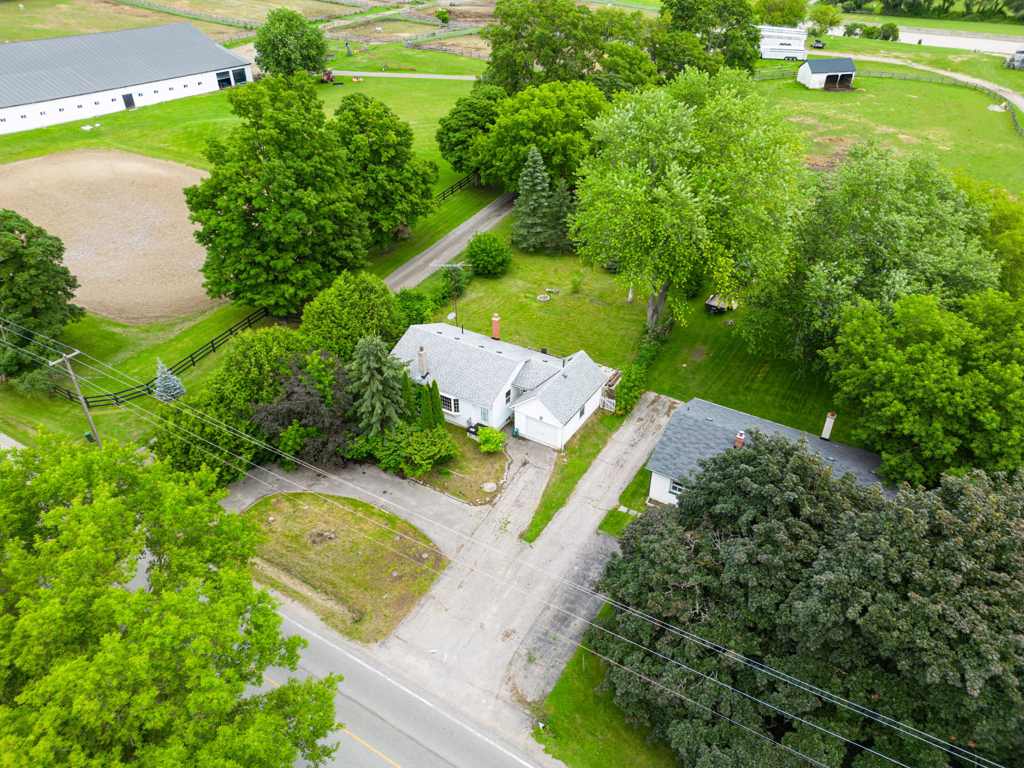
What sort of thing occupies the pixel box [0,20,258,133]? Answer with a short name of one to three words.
barn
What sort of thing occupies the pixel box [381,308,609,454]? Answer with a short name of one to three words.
house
